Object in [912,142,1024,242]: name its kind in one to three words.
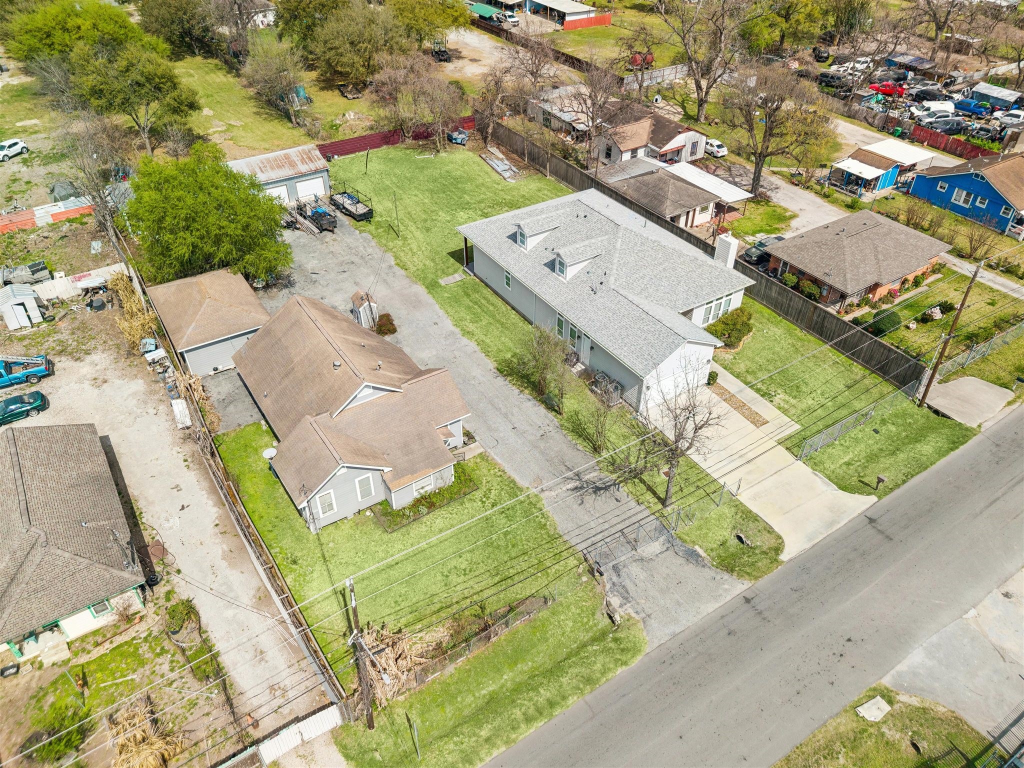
house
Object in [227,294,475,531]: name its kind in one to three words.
house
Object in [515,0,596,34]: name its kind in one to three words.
building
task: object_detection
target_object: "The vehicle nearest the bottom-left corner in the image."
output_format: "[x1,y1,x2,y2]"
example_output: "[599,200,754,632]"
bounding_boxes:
[0,385,48,421]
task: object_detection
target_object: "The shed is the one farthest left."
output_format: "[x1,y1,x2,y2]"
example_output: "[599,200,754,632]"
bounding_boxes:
[0,287,42,330]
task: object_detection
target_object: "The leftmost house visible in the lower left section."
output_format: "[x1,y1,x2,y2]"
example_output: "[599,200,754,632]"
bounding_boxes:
[0,422,150,708]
